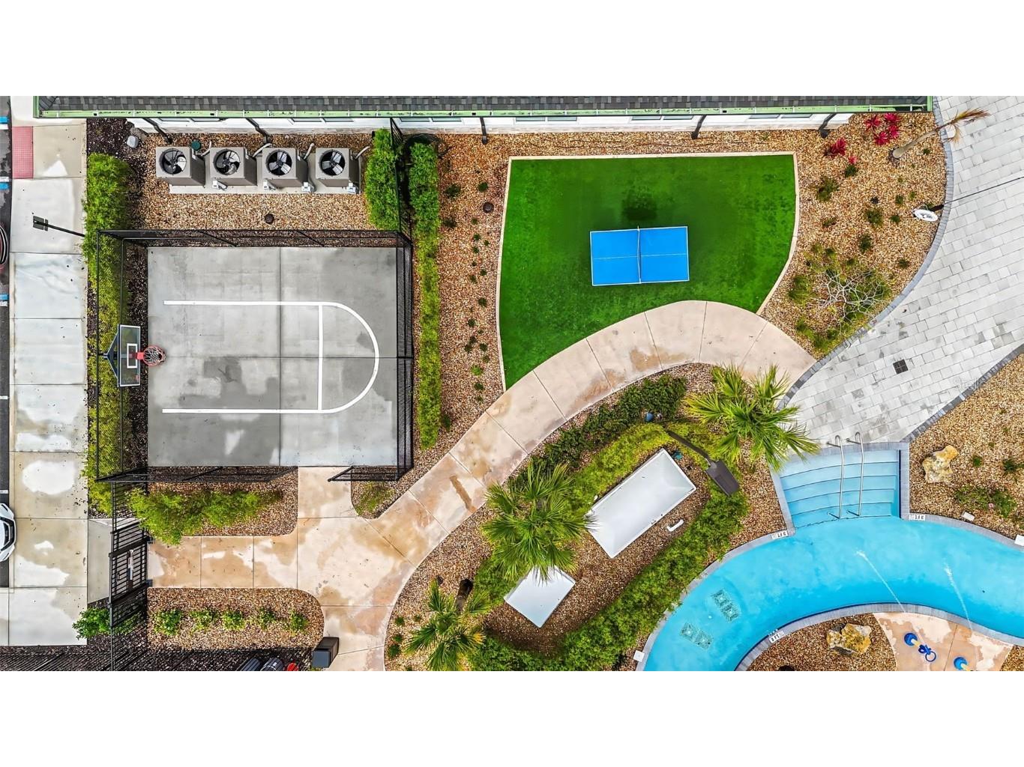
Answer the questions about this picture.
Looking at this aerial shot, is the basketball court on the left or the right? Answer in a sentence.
It is on the left.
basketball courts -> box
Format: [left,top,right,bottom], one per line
[147,247,410,466]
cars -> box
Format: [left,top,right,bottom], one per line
[0,224,9,274]
[0,498,19,564]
